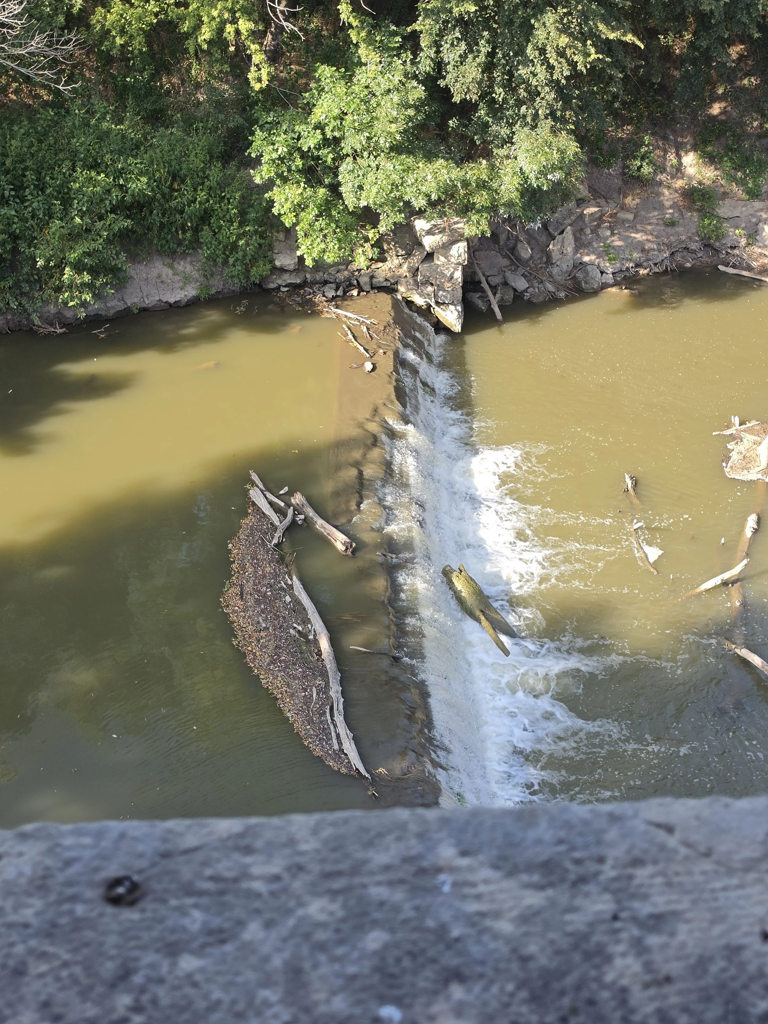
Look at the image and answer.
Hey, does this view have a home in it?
No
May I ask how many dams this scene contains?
1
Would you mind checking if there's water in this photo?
Yes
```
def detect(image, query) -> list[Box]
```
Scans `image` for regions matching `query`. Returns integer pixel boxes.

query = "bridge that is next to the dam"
[0,797,768,1024]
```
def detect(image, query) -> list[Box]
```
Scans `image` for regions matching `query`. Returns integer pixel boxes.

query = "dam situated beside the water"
[329,283,457,813]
